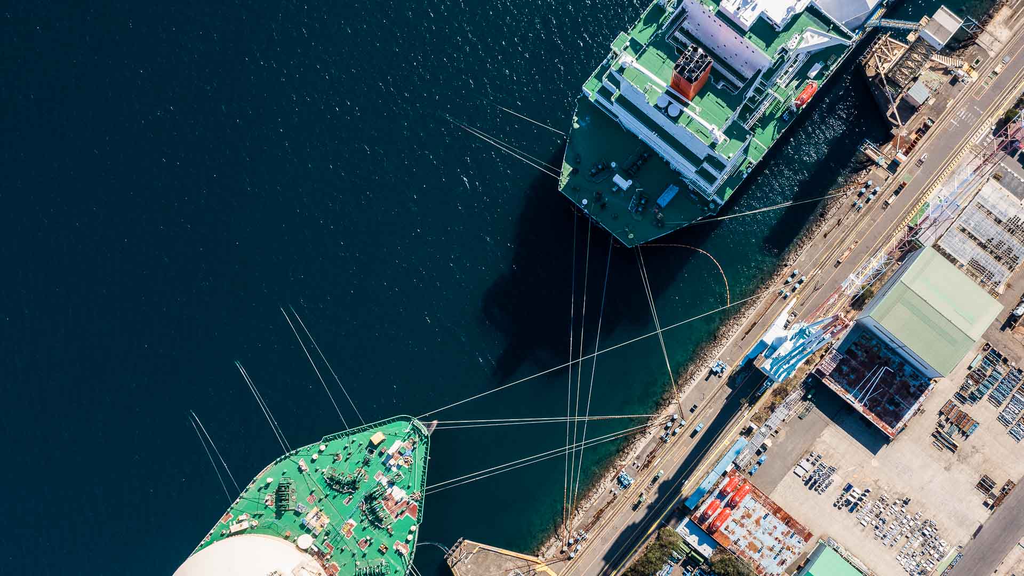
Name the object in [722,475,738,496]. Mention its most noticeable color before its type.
red boat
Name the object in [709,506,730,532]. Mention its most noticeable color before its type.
red boat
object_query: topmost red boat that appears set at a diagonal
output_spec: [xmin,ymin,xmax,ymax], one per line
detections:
[796,84,815,108]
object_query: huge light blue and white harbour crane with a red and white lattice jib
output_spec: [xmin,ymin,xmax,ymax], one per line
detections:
[734,112,1024,398]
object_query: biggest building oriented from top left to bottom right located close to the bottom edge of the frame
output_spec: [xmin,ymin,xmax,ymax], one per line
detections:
[674,514,718,559]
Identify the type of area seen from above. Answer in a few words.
port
